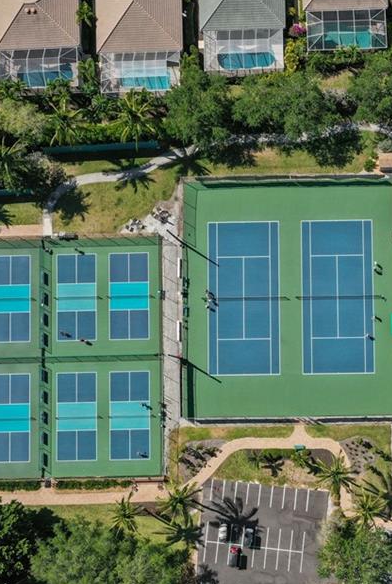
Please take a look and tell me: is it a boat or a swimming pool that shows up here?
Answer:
swimming pool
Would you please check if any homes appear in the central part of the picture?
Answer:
No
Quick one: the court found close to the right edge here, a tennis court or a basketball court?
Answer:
tennis court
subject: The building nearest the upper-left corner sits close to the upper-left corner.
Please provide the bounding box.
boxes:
[0,0,80,55]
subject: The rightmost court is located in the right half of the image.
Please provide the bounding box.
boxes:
[296,220,380,374]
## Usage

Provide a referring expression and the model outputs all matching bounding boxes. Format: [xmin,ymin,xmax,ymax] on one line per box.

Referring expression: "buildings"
[305,0,387,17]
[379,151,392,171]
[97,0,182,57]
[0,0,80,55]
[202,0,285,36]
